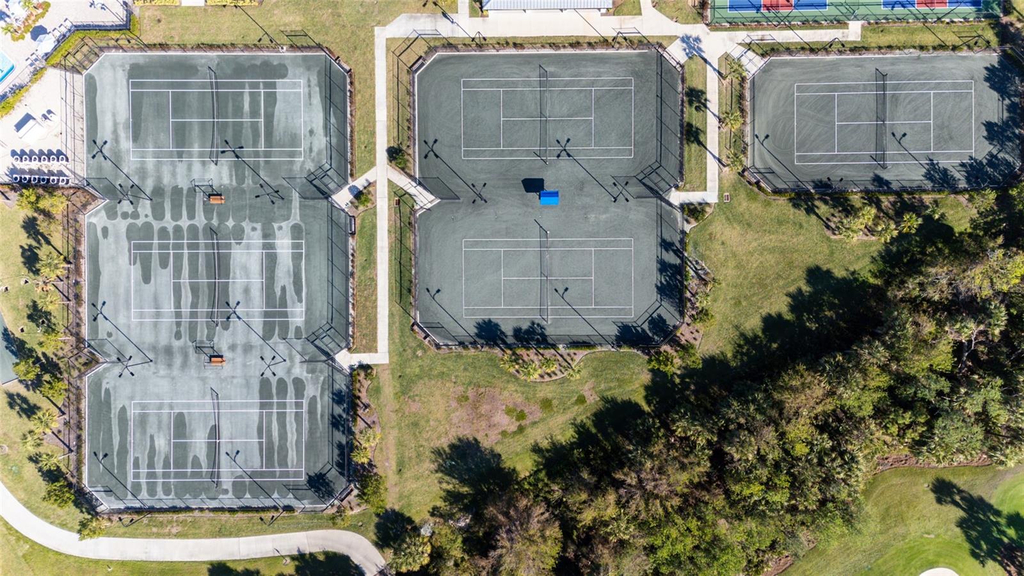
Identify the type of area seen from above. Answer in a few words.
sports ground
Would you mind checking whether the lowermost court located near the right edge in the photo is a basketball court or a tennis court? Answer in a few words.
tennis court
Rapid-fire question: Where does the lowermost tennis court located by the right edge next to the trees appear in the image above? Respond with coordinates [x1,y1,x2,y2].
[749,58,1022,191]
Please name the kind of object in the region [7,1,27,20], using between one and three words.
umbrella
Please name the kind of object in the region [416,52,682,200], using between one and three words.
tennis court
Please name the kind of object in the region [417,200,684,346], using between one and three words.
tennis court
